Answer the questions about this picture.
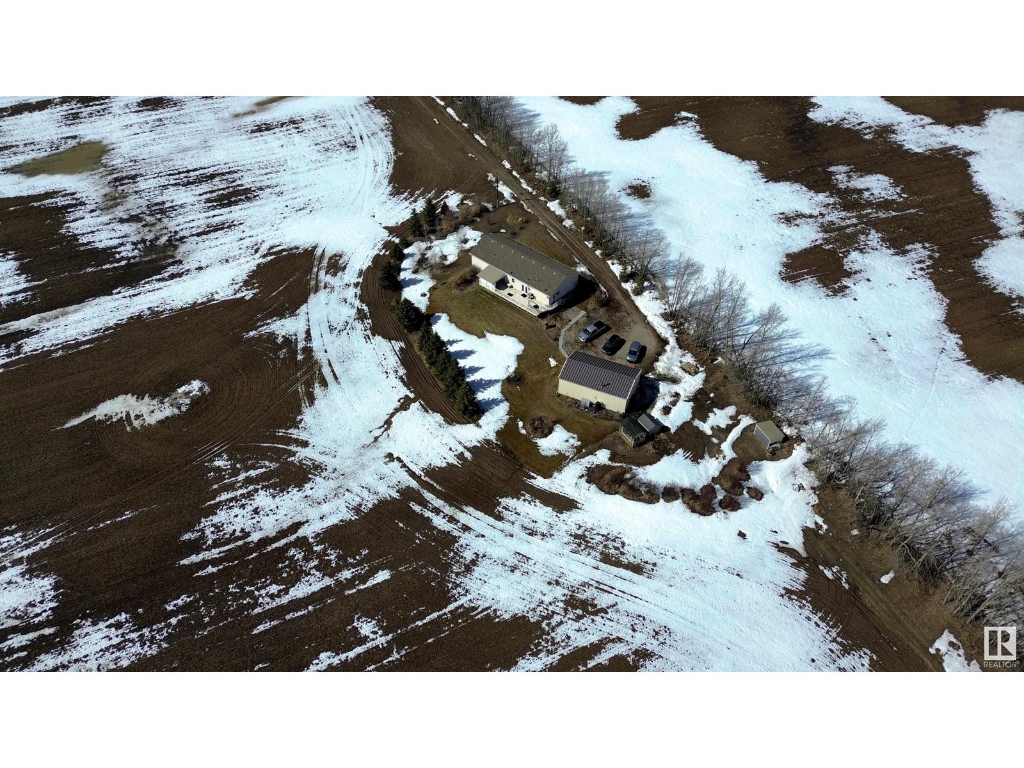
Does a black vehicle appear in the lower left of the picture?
No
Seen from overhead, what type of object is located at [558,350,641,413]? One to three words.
building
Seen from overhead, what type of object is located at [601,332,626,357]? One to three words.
car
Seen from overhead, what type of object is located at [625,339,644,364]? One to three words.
car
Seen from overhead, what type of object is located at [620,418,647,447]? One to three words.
greenhouse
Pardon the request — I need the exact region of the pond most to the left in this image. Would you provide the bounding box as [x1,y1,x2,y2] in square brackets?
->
[12,136,111,180]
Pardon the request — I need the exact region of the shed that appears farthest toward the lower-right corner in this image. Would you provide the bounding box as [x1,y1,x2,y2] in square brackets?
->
[751,420,786,453]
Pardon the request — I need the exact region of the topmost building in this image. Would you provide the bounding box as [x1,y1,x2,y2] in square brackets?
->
[468,234,581,319]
